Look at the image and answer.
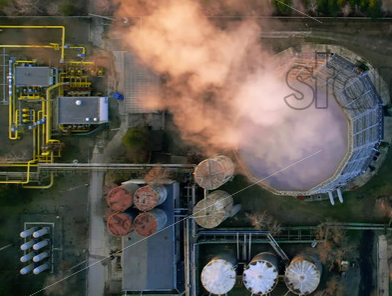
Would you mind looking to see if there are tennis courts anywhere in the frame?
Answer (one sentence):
No, the picture doesn't show any tennis court.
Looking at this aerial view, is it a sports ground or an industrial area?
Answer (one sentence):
The picture captures an industrial area.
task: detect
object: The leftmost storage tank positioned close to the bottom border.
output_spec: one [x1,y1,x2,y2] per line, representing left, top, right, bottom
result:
[201,252,241,294]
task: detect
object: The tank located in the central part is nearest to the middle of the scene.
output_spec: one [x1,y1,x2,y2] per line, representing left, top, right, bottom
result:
[194,152,235,191]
